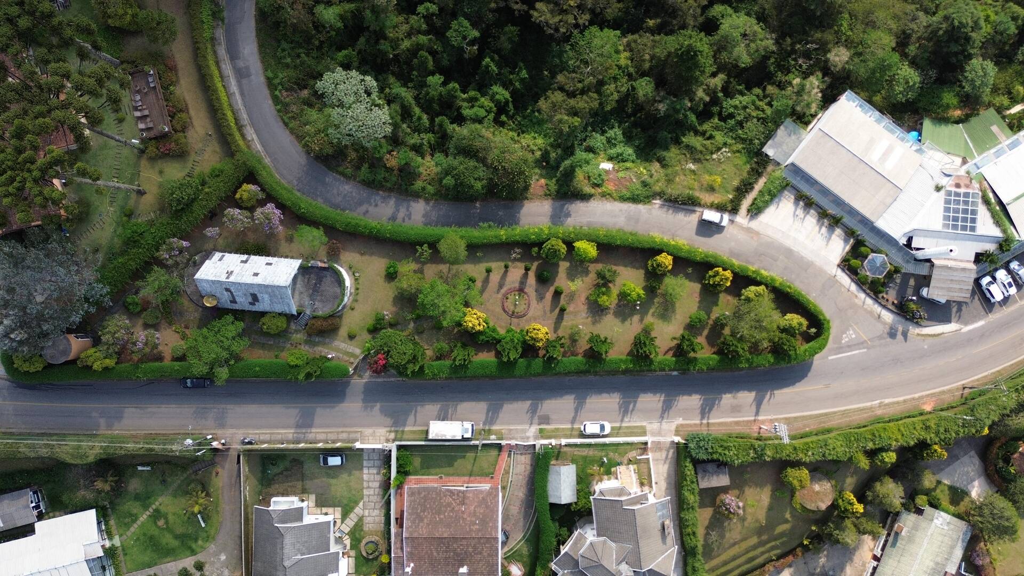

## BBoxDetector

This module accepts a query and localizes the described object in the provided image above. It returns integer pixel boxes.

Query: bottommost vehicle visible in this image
[499,522,512,547]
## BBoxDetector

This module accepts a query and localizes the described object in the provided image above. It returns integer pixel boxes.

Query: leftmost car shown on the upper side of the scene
[699,211,727,226]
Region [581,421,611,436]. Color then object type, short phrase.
white car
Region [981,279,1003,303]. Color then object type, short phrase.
white car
